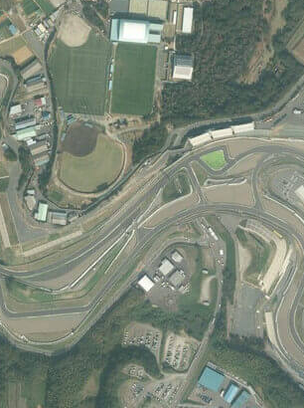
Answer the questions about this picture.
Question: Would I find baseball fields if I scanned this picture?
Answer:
Yes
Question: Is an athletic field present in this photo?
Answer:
Yes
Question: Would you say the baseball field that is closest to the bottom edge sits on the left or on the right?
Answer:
left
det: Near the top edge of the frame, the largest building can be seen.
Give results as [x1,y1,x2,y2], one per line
[111,17,164,42]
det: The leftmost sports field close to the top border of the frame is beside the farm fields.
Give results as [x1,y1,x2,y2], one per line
[50,10,113,115]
